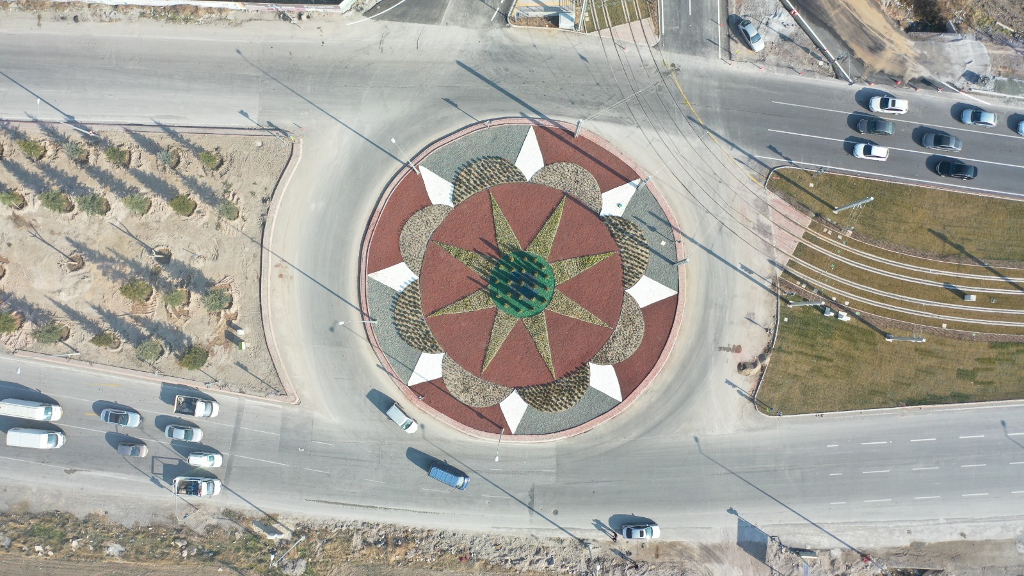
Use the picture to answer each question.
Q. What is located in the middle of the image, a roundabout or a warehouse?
roundabout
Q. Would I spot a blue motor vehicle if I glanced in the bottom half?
Yes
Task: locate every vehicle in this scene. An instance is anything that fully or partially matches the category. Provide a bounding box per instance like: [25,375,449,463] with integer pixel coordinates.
[737,17,764,54]
[166,424,205,443]
[173,476,222,497]
[101,408,143,429]
[1016,121,1024,137]
[867,94,909,116]
[851,141,890,162]
[856,117,896,137]
[12,426,70,449]
[935,160,978,181]
[959,108,999,129]
[428,461,469,491]
[117,441,150,460]
[2,399,67,423]
[187,451,224,470]
[920,132,962,153]
[622,522,659,542]
[175,397,221,418]
[387,403,419,433]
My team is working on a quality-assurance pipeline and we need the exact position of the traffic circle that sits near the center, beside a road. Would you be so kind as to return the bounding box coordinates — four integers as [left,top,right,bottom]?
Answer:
[358,116,685,443]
